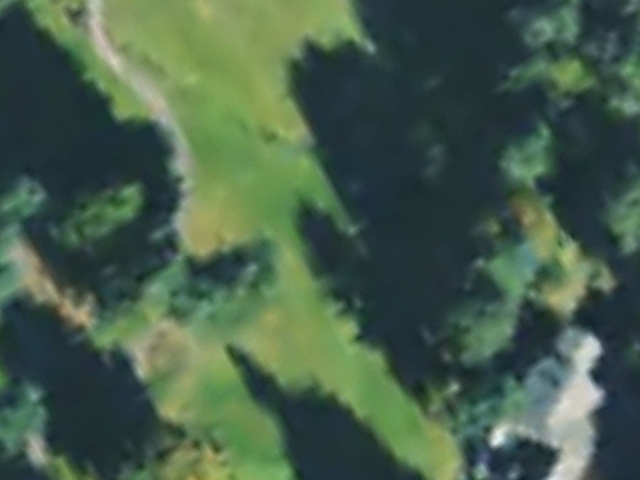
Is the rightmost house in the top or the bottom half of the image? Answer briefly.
bottom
